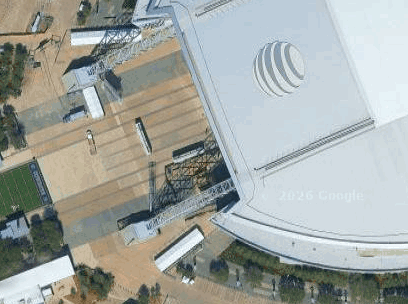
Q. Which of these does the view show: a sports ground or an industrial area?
sports ground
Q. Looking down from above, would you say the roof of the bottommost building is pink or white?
white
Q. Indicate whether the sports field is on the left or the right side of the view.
left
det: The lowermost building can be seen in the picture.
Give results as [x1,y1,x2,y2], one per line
[0,256,76,304]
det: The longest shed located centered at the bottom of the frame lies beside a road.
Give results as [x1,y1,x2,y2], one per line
[153,230,206,275]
